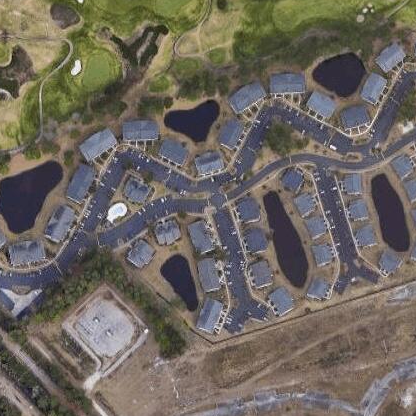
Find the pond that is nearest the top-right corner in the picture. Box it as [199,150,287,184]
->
[313,54,364,97]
